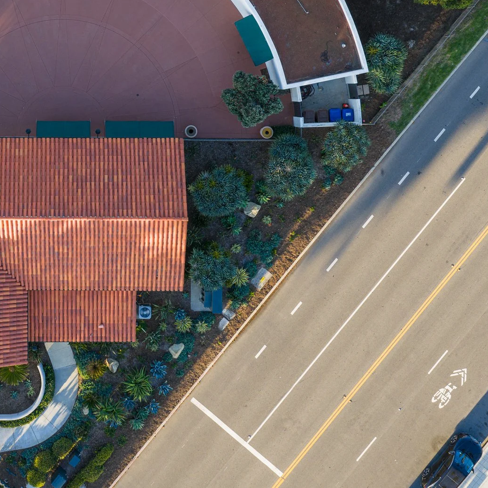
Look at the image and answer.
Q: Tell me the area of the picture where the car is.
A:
bottom right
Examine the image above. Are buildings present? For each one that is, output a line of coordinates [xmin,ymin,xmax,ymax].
[233,0,368,95]
[0,120,190,368]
